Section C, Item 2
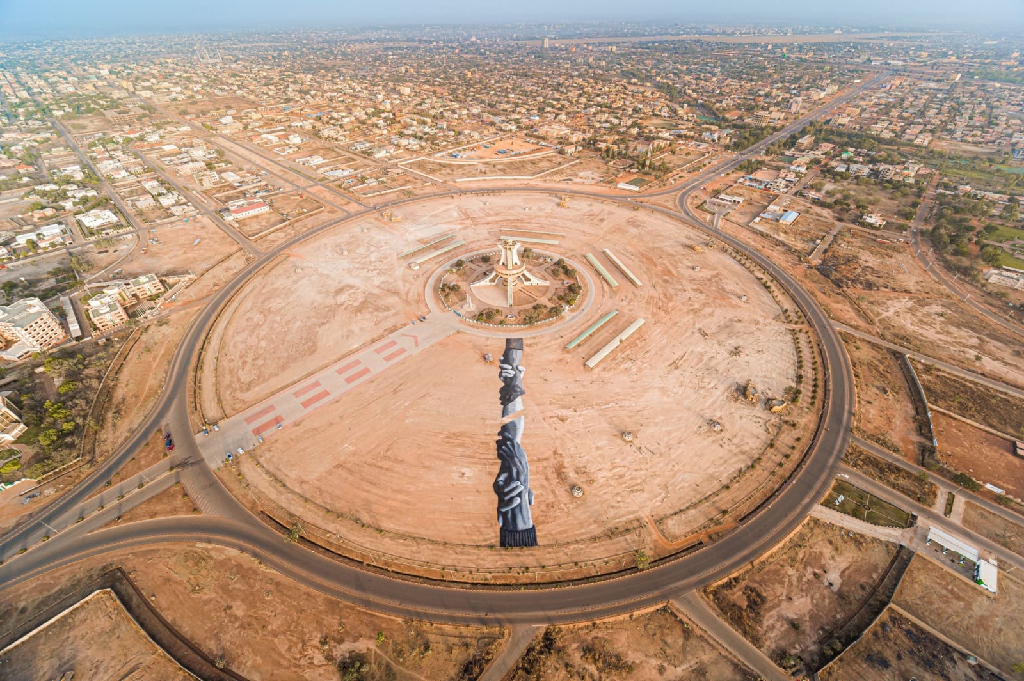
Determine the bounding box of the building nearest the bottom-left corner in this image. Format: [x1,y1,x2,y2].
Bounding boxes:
[0,401,42,442]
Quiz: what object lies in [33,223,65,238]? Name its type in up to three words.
building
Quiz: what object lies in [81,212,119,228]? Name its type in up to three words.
house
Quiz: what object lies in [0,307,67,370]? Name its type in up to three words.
building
